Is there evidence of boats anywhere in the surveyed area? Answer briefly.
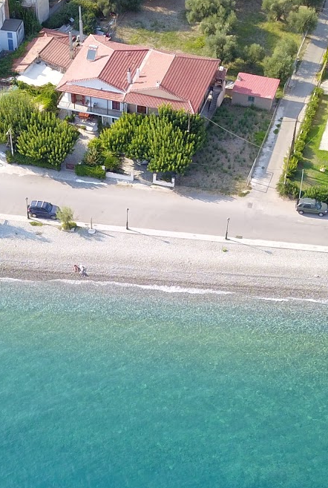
No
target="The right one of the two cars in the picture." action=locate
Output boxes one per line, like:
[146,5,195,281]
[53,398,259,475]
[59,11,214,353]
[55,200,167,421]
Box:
[294,197,327,217]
